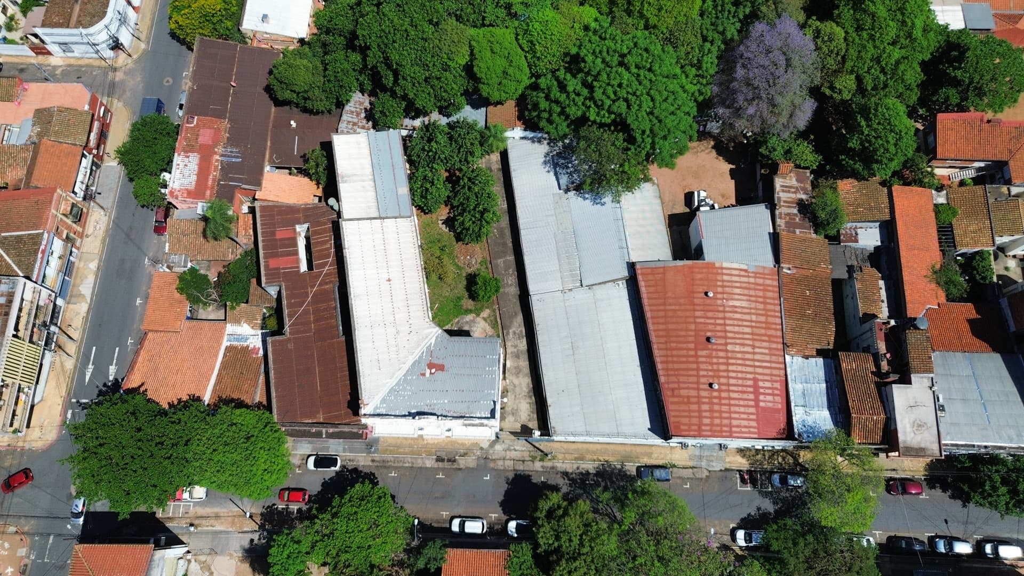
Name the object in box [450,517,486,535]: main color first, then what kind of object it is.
white car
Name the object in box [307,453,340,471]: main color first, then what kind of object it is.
black car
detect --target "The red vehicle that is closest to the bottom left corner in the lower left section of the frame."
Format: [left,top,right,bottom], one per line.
[0,466,37,495]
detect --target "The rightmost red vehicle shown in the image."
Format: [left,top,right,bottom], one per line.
[887,478,923,496]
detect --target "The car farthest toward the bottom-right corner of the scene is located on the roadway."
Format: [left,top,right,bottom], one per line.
[982,539,1024,559]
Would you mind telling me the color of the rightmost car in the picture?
white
